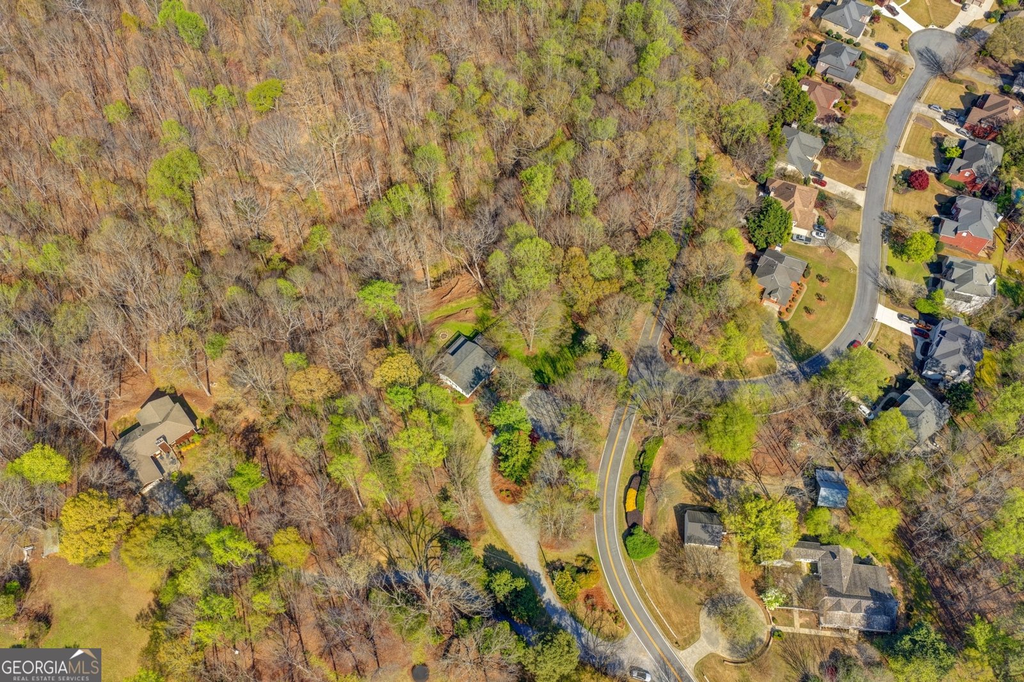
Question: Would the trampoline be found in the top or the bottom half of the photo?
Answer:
bottom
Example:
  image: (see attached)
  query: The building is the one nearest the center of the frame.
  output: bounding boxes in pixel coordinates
[431,335,500,404]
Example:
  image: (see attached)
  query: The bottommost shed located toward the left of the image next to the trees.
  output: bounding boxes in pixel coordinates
[42,527,65,559]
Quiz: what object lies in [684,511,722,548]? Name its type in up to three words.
building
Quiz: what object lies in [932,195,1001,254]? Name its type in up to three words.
house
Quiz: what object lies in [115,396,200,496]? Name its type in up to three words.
house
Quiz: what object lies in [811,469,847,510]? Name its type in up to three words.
barn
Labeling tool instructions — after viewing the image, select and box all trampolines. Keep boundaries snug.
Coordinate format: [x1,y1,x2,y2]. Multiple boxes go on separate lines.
[409,660,431,682]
